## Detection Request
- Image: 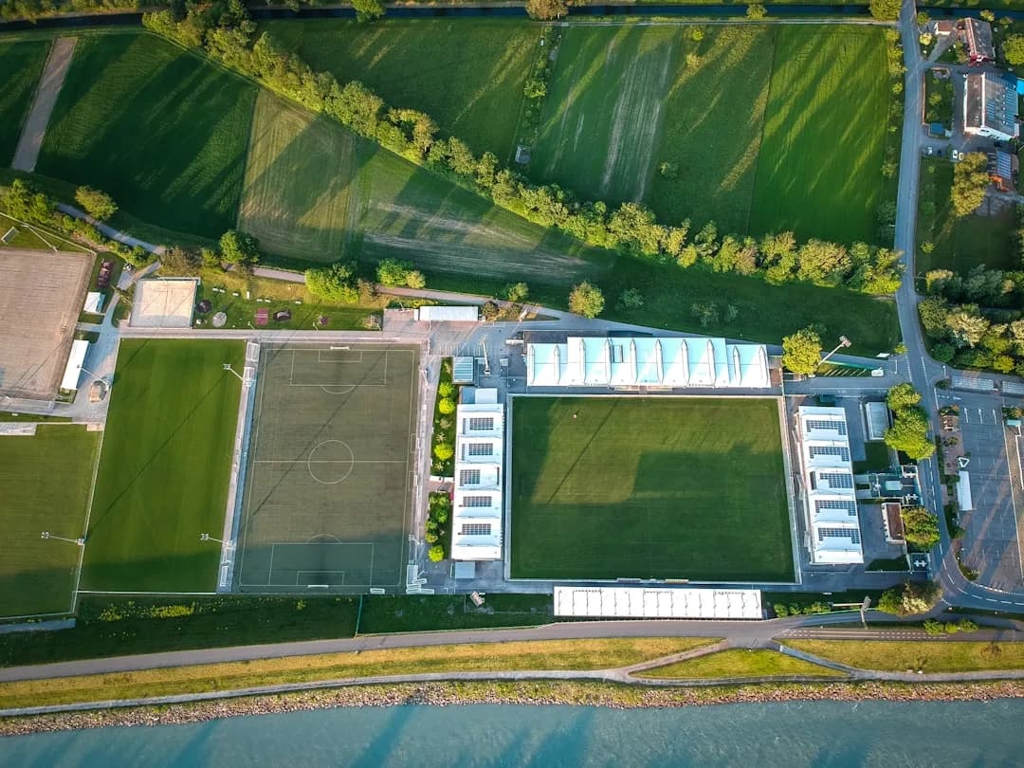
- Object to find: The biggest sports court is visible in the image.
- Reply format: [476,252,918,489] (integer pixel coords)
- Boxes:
[130,278,198,328]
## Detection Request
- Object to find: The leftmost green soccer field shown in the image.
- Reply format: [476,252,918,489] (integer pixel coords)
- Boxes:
[0,425,99,621]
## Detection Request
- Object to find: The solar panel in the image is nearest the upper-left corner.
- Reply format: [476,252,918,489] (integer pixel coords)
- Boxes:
[456,362,472,378]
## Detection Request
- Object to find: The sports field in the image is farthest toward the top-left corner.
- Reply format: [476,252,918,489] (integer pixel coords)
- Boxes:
[0,248,96,401]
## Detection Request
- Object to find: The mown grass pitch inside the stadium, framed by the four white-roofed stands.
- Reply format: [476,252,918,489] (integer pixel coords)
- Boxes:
[505,392,801,583]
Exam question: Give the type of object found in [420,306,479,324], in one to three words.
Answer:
building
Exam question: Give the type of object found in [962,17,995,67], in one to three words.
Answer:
house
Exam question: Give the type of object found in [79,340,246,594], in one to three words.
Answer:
soccer field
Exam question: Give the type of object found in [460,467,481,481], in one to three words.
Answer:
solar panel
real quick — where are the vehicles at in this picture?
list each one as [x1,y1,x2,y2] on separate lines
[993,141,1003,146]
[927,145,934,154]
[959,151,965,159]
[871,368,885,375]
[952,148,959,158]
